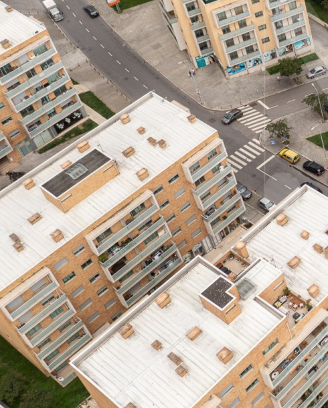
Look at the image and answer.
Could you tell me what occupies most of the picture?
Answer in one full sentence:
The largest share of the image is taken up by buildings.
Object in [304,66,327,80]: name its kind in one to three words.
car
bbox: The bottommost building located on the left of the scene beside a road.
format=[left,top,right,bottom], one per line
[0,92,247,380]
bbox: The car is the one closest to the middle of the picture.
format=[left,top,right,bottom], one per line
[235,183,256,200]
